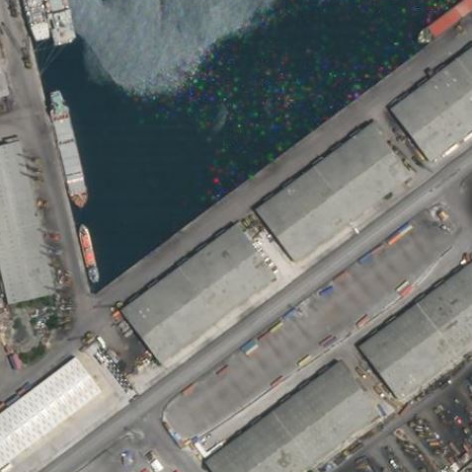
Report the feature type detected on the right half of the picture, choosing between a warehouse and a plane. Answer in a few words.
warehouse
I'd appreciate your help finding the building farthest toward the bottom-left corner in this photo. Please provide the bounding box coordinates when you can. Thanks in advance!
[0,357,101,468]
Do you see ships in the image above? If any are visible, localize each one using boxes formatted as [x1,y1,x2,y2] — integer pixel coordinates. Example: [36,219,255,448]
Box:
[80,225,99,284]
[43,0,76,45]
[418,0,472,46]
[24,0,50,43]
[50,91,86,208]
